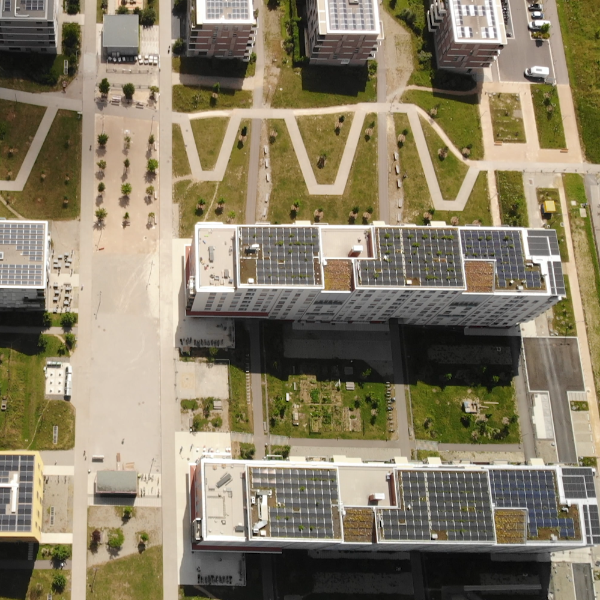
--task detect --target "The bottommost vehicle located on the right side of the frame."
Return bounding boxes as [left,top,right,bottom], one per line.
[526,64,553,78]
